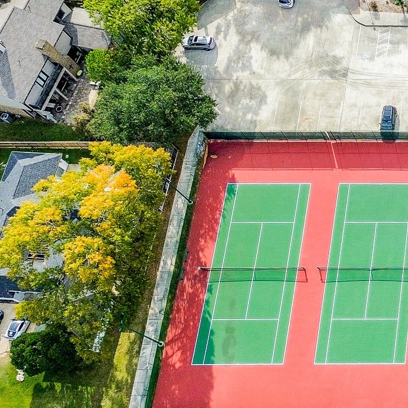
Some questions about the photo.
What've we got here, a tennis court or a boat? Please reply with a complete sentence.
There is a tennis court in the scene.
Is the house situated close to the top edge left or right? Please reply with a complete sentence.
The house situated close to the top edge appears in the left half of the scene.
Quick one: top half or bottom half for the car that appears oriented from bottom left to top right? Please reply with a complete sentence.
You can find the car that appears oriented from bottom left to top right in the bottom half.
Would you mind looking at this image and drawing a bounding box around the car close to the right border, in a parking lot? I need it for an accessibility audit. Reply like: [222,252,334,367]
[377,103,395,132]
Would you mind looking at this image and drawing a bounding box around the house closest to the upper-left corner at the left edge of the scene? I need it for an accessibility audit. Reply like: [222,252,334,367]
[0,0,116,123]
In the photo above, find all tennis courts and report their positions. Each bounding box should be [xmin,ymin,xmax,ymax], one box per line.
[152,140,329,408]
[294,141,408,408]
